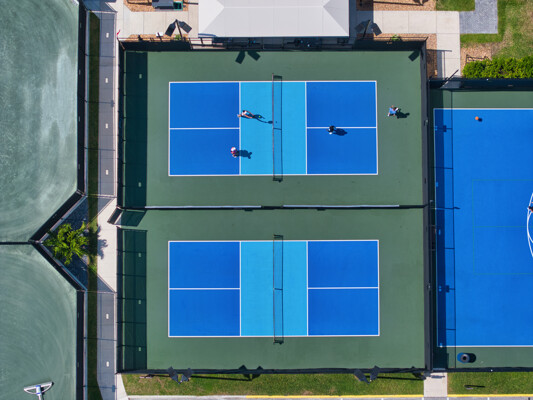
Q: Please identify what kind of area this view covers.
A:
sports ground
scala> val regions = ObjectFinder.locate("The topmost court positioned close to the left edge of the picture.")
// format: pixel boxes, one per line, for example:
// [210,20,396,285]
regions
[0,0,82,240]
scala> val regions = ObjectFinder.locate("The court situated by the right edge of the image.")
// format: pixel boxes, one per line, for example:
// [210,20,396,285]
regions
[433,108,533,347]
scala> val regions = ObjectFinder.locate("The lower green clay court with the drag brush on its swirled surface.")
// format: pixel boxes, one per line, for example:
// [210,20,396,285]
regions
[0,242,80,400]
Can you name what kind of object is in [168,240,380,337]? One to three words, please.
sports court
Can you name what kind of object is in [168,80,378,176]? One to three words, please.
sports court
